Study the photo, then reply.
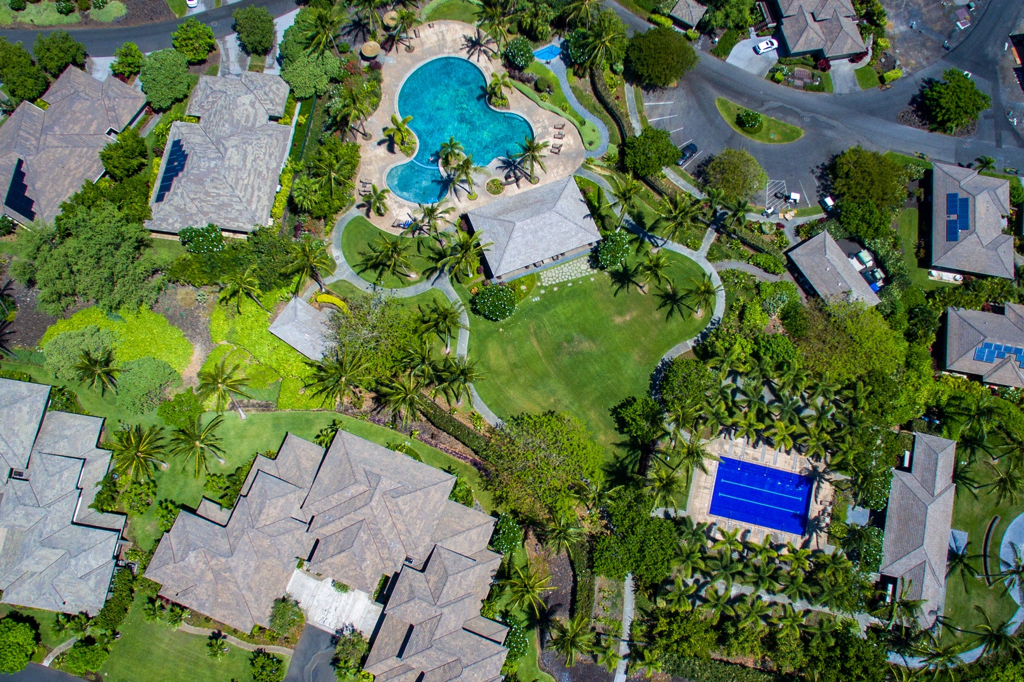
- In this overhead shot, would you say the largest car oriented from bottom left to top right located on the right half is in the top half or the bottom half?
top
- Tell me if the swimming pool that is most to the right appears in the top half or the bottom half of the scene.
bottom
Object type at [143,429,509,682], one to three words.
house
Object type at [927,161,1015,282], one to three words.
house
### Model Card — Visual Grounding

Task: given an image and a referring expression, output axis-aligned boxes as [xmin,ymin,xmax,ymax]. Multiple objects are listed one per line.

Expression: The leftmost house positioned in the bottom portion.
[0,377,129,618]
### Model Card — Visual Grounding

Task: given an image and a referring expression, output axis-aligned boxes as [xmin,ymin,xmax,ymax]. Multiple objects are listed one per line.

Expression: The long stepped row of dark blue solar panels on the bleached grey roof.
[155,140,191,202]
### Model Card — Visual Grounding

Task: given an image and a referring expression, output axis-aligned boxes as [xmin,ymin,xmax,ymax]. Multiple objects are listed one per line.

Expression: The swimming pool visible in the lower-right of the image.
[707,454,816,539]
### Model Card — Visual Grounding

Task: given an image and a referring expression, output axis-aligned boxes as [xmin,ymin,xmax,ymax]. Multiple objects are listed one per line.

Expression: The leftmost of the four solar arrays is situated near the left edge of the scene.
[4,158,36,221]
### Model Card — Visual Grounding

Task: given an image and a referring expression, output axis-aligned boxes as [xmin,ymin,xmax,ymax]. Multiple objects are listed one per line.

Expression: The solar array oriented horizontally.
[974,342,1024,368]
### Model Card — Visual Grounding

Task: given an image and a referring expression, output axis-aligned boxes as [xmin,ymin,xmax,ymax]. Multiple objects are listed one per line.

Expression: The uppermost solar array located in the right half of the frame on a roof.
[947,193,970,241]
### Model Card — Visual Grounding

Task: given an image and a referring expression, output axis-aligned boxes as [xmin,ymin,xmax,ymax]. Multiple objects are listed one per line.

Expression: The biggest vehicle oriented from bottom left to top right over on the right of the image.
[678,142,698,164]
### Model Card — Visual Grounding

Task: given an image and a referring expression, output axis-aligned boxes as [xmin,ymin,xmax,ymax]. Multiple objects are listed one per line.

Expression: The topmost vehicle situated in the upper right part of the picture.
[754,37,780,51]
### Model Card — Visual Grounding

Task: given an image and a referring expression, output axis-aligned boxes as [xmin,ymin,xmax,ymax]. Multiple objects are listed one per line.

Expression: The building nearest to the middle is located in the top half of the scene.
[466,175,603,284]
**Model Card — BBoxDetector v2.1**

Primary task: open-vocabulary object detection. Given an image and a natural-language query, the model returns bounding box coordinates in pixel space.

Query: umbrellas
[383,12,397,28]
[362,42,380,57]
